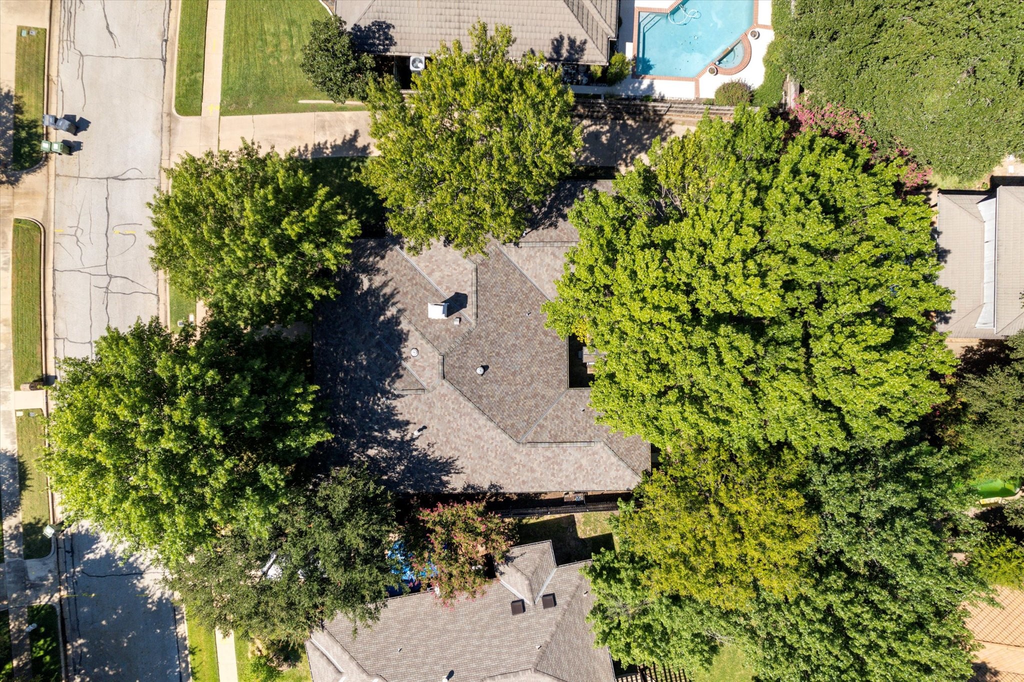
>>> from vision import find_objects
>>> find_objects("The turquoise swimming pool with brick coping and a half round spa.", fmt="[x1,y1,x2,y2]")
[632,0,773,98]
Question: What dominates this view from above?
trees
